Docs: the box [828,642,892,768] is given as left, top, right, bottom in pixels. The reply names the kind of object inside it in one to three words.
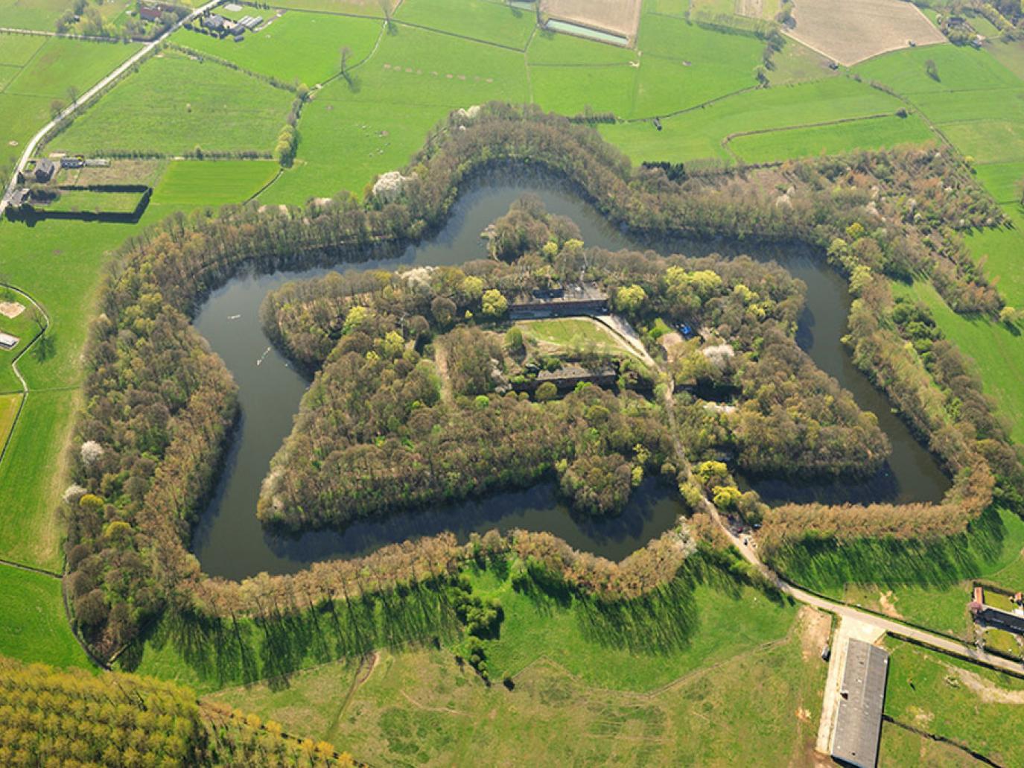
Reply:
barn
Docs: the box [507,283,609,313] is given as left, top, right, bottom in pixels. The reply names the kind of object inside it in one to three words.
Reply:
building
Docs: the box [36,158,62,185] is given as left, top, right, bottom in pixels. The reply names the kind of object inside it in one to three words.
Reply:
house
